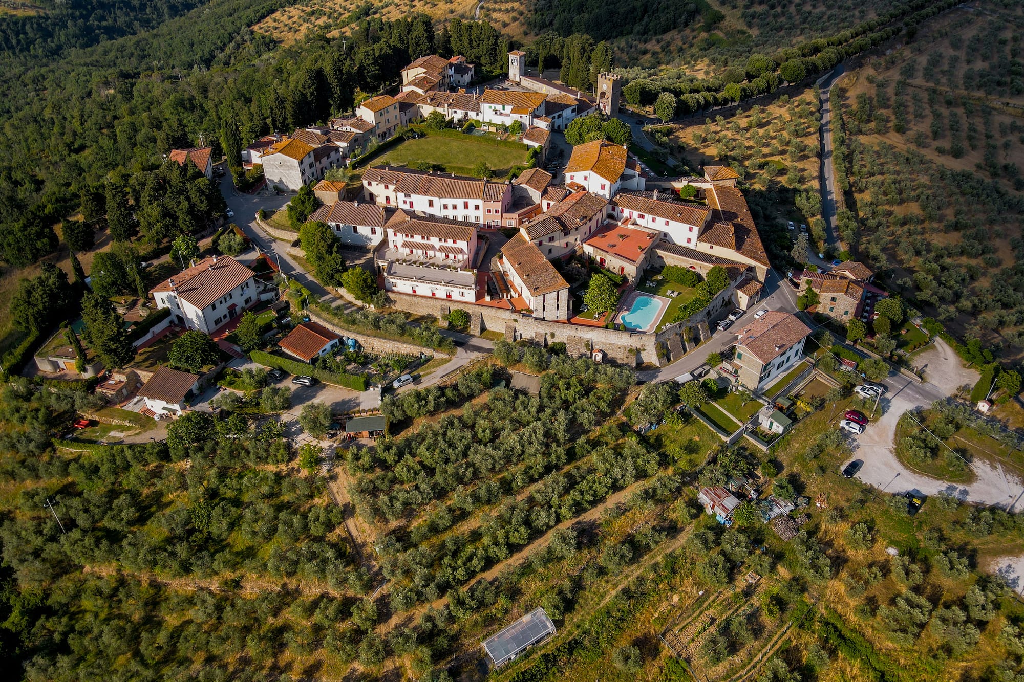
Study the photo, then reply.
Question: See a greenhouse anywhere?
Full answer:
Yes, the picture does show a greenhouse.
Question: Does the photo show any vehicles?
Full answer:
Yes, there is a vehicle in the image.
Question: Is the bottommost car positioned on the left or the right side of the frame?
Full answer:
The bottommost car appears in the right half of the scene.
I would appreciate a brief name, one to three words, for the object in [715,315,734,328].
vehicle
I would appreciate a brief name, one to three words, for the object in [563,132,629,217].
house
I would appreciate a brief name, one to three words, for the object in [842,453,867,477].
car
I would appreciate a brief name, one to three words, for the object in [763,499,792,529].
shed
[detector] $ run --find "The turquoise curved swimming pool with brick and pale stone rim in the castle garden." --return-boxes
[613,290,672,331]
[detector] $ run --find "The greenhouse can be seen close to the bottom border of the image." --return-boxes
[483,613,561,676]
